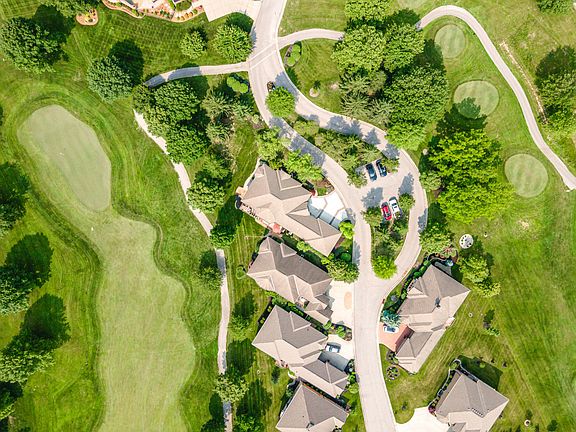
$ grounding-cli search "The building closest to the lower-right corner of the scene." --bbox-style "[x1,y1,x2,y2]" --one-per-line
[437,371,509,432]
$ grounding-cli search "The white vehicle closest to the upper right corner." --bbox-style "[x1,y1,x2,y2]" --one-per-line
[389,198,401,217]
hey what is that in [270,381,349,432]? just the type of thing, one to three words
house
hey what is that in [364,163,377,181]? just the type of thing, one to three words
vehicle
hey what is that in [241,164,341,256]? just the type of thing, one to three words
house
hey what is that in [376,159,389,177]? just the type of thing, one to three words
vehicle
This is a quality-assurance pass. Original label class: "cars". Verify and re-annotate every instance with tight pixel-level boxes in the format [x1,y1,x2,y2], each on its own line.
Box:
[381,203,392,220]
[376,159,389,177]
[364,163,377,181]
[389,198,401,217]
[325,343,341,353]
